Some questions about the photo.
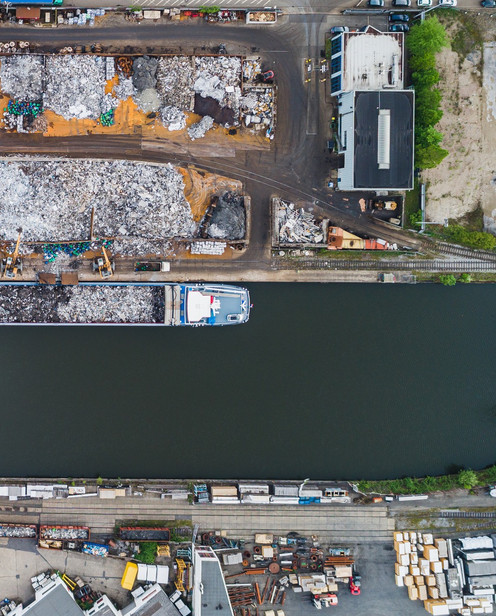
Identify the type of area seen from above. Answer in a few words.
port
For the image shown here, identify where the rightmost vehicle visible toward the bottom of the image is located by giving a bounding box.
[347,569,362,600]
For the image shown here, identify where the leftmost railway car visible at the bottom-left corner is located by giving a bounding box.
[0,523,39,538]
